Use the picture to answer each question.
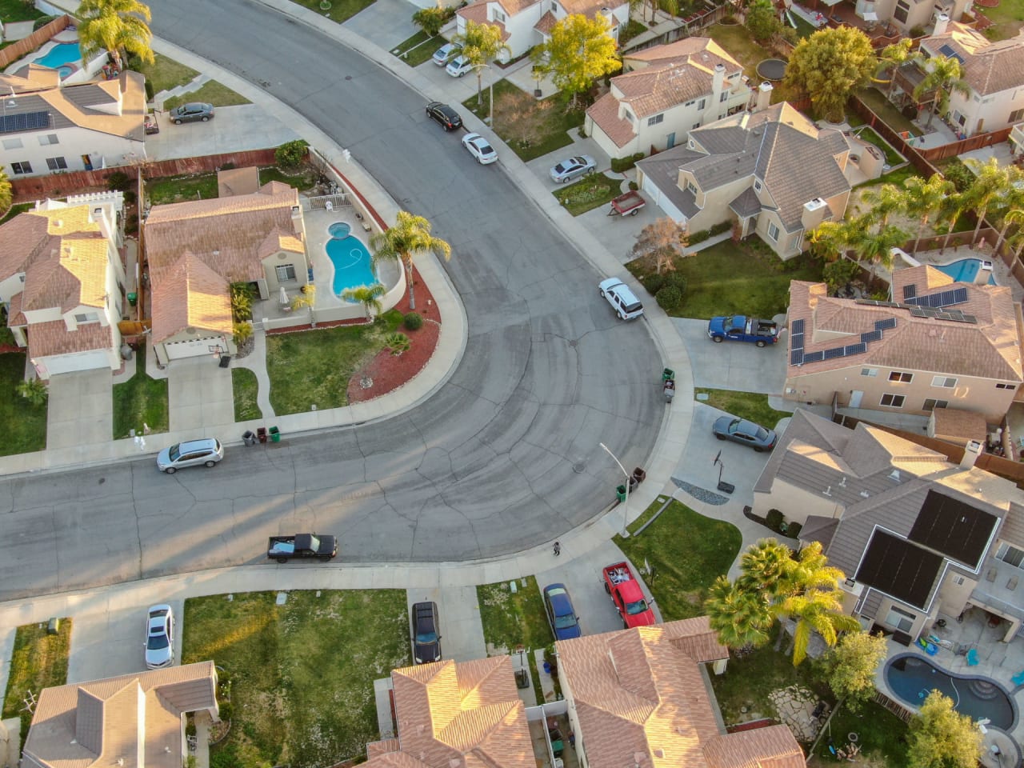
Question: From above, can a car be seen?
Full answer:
Yes, there's a car down there.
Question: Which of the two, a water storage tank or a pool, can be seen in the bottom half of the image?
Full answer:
The one visible in the bottom half of the image is a pool.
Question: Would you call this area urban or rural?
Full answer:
The area is urban.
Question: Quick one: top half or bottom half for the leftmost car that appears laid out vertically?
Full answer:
It is in the bottom half that the leftmost car that appears laid out vertically appears.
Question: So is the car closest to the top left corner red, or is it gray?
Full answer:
The car closest to the top left corner looks gray in the image.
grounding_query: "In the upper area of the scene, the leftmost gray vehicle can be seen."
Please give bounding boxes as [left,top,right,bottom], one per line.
[165,99,220,126]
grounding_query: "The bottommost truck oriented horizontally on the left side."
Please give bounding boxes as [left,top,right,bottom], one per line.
[262,529,342,564]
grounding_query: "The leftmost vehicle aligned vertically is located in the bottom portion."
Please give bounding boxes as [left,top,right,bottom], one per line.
[140,598,177,671]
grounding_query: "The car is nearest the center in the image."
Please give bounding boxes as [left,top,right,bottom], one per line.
[596,273,649,325]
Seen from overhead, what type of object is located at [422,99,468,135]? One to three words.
car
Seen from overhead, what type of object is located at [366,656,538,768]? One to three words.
house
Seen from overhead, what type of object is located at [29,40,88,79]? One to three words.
swimming pool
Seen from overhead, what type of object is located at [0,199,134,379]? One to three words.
house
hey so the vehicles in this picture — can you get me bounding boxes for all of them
[542,575,582,642]
[427,38,469,69]
[262,529,342,564]
[596,273,649,325]
[158,434,226,473]
[601,555,657,629]
[458,130,503,169]
[440,52,479,81]
[409,595,444,666]
[706,414,781,453]
[422,99,468,135]
[140,598,177,671]
[707,314,781,344]
[165,99,220,126]
[544,152,602,185]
